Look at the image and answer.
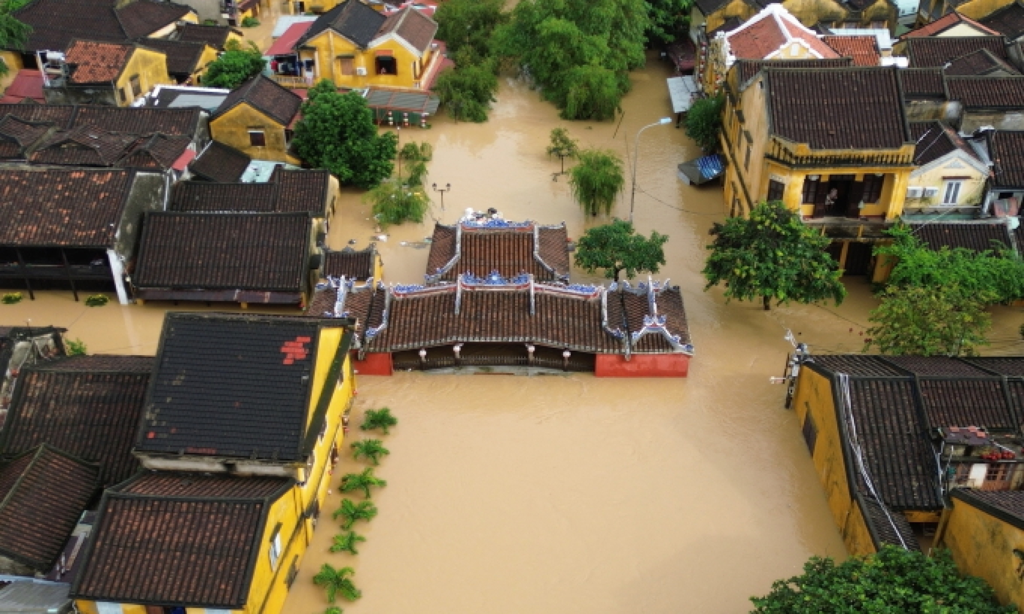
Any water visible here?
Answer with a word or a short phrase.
Yes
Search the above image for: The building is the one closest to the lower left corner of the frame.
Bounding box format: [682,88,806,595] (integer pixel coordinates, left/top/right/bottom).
[0,441,101,614]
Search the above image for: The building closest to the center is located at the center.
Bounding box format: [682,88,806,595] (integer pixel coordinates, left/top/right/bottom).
[420,215,577,288]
